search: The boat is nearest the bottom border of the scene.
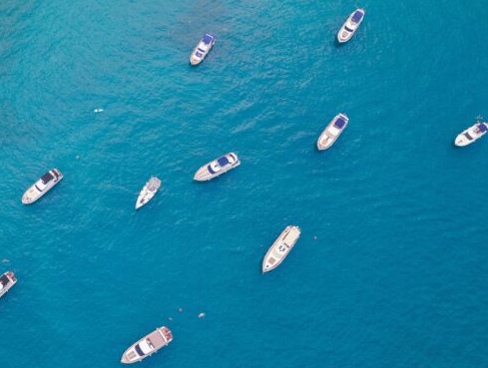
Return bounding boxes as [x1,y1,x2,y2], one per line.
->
[120,326,172,363]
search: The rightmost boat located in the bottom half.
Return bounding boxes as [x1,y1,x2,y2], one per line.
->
[261,224,300,275]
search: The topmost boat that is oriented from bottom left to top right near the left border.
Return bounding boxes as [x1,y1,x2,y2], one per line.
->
[22,169,63,205]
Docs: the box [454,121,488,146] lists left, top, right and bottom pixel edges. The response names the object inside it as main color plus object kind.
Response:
white boat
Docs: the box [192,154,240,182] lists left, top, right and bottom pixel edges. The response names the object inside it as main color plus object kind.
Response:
white boat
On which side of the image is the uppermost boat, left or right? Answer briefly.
right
